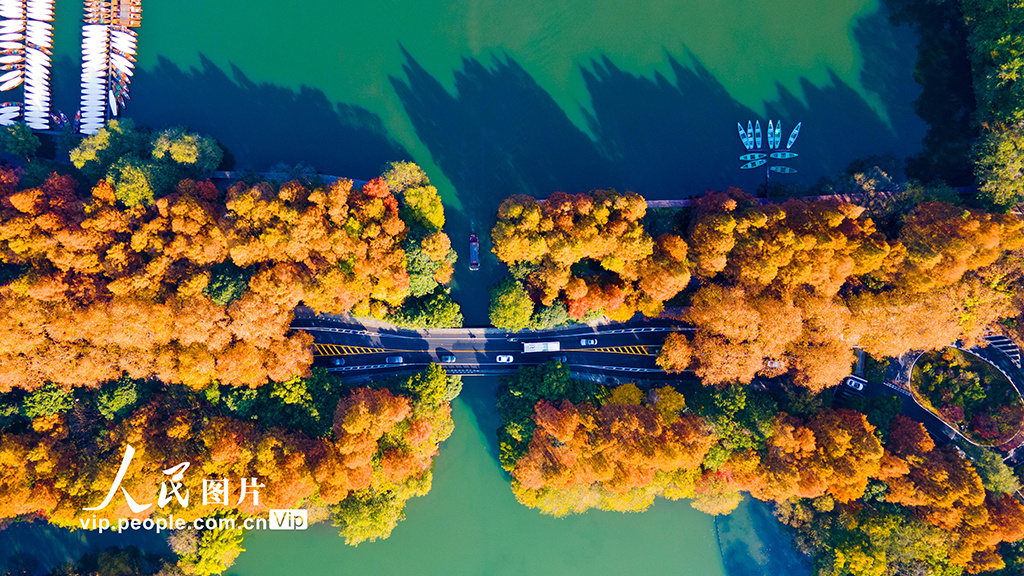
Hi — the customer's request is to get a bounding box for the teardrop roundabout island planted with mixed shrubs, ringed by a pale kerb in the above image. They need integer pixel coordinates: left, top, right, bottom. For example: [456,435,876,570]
[909,345,1024,447]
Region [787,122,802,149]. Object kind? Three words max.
boat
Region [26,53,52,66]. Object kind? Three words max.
boat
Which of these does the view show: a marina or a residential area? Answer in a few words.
marina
